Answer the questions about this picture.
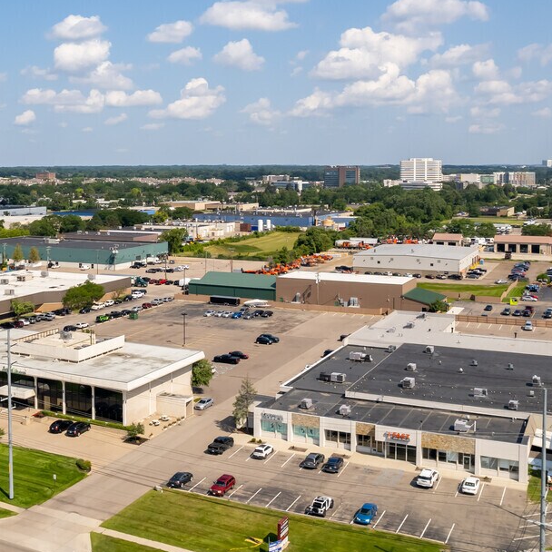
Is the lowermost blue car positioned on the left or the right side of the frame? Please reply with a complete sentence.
The lowermost blue car sits on the right side.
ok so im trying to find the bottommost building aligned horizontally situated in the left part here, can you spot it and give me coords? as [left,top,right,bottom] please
[0,327,206,425]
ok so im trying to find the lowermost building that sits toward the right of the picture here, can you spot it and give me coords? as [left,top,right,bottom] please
[259,309,552,480]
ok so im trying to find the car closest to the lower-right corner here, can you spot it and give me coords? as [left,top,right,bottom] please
[461,478,480,496]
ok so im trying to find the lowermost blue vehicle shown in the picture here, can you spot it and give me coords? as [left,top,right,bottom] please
[354,503,378,524]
